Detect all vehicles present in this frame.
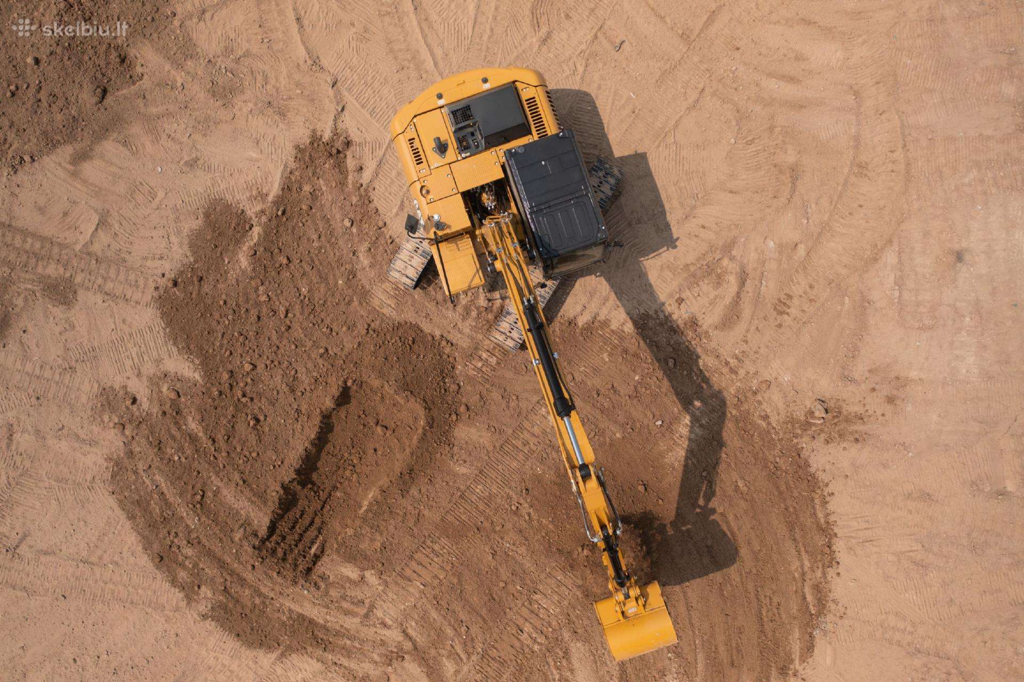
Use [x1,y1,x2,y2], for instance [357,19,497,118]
[385,62,681,662]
